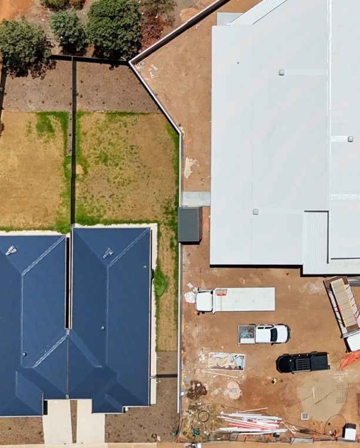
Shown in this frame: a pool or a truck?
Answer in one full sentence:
Looking from above, you can make out a truck.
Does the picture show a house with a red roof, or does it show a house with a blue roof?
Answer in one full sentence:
There is a house with a blue roof in the scene.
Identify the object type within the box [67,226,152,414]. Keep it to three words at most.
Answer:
house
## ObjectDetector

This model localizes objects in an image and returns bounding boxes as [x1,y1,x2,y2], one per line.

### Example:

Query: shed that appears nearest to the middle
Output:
[177,207,202,242]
